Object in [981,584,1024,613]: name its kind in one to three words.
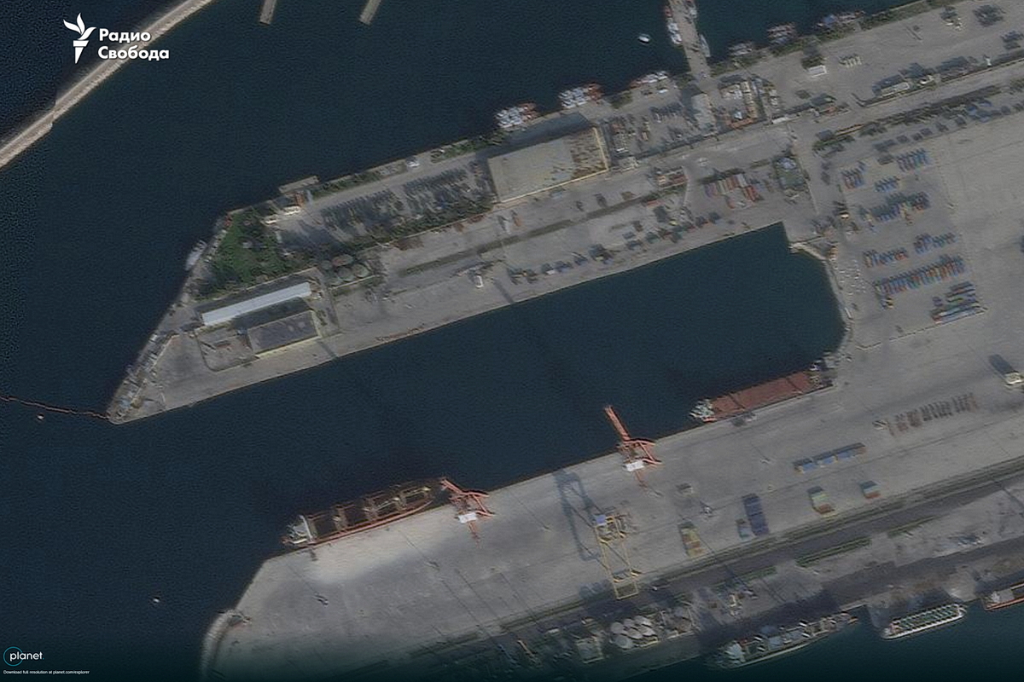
ship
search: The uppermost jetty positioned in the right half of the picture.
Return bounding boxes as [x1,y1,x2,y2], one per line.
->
[670,0,710,71]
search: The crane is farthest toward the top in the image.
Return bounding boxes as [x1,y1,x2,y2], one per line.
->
[602,405,664,492]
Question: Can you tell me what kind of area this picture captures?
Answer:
port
